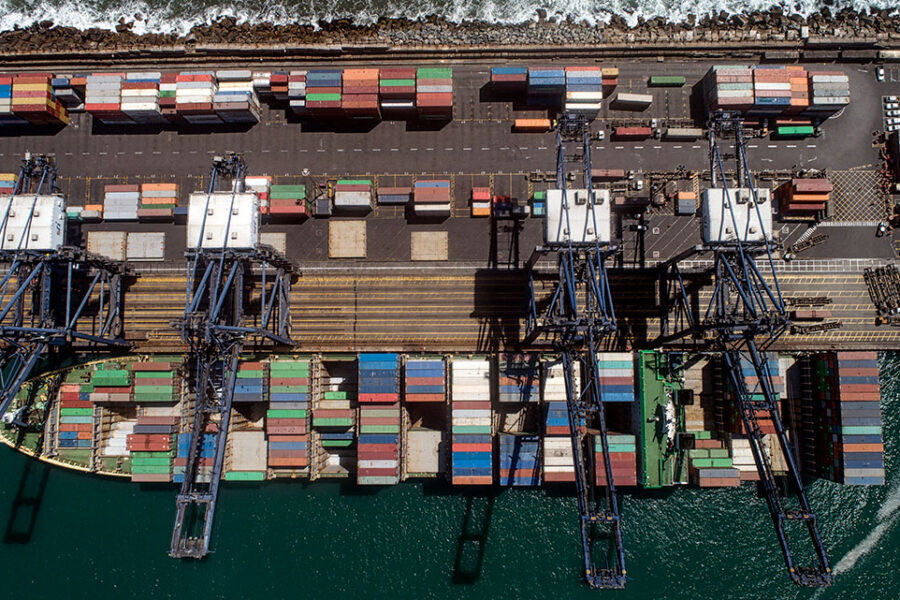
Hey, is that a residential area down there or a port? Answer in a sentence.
What you see here is a port.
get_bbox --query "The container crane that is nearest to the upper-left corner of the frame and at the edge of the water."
[0,150,152,403]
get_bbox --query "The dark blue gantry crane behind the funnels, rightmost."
[640,108,836,591]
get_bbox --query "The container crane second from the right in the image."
[515,110,628,591]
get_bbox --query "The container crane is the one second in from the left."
[165,148,312,554]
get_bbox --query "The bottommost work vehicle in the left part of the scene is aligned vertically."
[320,182,336,217]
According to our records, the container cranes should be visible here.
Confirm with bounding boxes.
[515,110,628,591]
[640,108,836,591]
[0,150,152,403]
[165,148,312,554]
